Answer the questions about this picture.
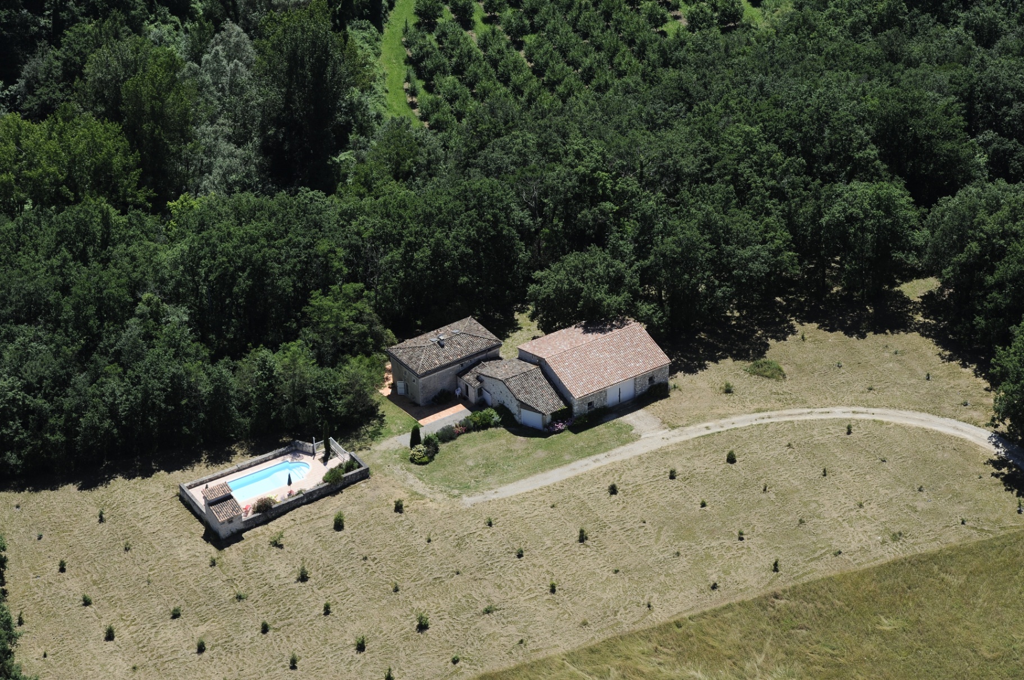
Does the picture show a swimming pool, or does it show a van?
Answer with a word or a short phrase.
swimming pool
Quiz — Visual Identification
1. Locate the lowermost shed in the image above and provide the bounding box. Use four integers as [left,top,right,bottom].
[201,482,244,540]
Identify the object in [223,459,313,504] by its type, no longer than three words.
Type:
swimming pool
